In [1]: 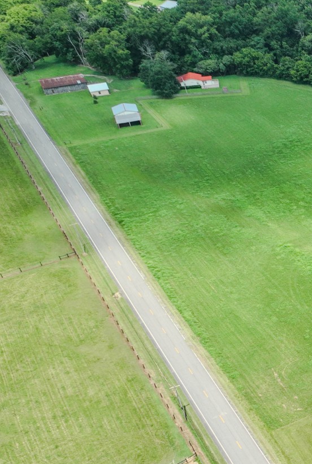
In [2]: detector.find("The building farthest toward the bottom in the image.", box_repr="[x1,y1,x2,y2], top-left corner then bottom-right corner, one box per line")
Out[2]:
[114,107,142,129]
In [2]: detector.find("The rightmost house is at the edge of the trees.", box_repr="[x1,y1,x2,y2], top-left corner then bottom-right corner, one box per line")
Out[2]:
[179,71,222,87]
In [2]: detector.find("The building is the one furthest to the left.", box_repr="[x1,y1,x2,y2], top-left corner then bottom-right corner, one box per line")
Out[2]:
[41,76,88,95]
